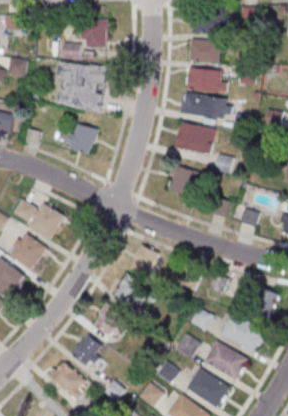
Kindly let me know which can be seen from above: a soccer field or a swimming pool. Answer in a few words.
swimming pool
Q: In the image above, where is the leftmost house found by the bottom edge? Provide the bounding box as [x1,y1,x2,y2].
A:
[50,362,86,398]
